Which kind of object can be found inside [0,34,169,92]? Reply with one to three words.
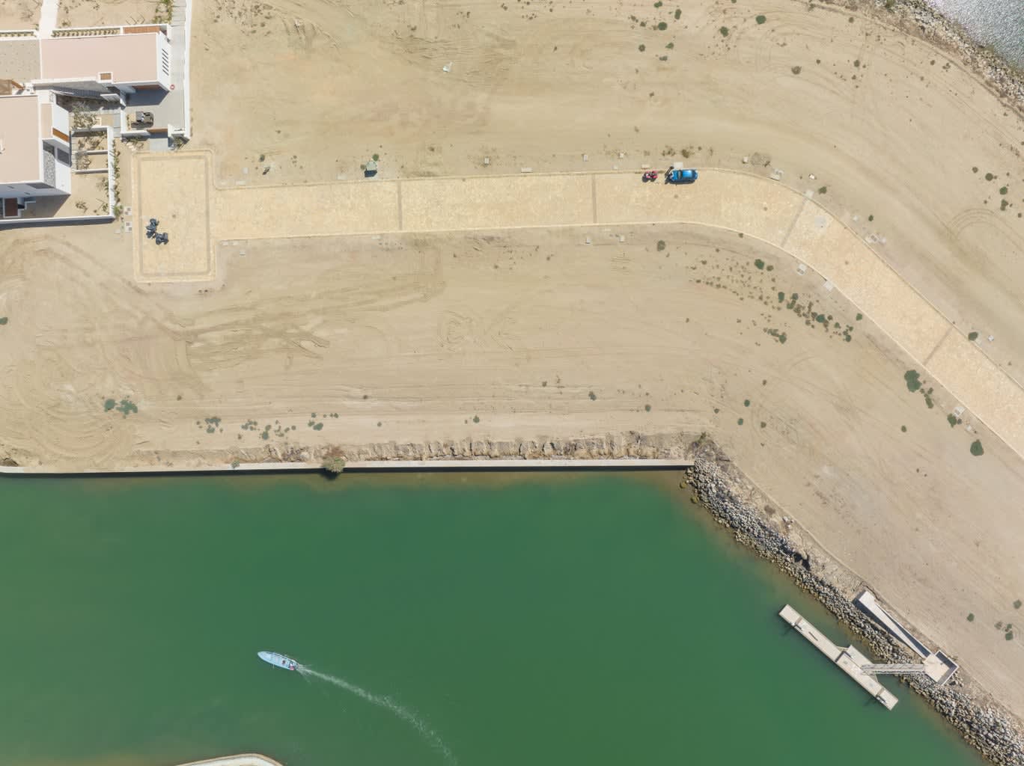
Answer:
house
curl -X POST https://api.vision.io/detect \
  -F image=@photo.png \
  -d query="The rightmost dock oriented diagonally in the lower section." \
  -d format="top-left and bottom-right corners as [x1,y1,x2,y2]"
[778,604,898,710]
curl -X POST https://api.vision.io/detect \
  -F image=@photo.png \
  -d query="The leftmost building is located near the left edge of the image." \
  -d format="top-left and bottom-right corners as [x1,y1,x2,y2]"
[0,90,73,197]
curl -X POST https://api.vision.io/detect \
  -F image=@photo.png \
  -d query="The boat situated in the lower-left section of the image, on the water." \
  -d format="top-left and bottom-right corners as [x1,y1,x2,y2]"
[257,654,298,673]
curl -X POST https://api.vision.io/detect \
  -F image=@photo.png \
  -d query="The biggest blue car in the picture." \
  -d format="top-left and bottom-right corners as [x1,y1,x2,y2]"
[671,169,698,183]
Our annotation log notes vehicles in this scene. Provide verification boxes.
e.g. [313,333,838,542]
[145,217,161,235]
[153,232,170,243]
[133,111,155,124]
[645,170,659,180]
[671,169,698,183]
